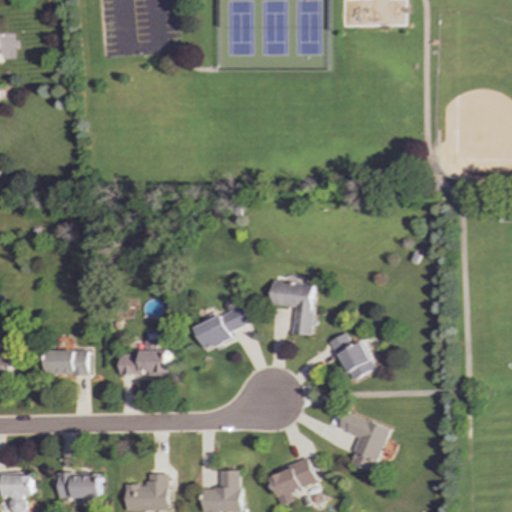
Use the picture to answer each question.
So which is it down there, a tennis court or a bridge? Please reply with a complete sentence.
The image shows a tennis court.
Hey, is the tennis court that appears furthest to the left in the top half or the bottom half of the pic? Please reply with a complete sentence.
The tennis court that appears furthest to the left sits in the top half of the picture.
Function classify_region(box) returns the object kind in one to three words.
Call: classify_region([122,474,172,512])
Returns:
house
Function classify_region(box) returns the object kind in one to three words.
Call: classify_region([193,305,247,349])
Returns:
house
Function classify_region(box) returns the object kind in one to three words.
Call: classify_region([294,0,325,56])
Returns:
tennis court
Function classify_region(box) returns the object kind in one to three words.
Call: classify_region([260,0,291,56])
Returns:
tennis court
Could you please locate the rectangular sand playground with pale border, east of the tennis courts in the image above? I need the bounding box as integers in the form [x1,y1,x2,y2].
[344,0,408,28]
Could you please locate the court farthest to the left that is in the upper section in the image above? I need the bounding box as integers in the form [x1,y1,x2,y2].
[226,0,256,56]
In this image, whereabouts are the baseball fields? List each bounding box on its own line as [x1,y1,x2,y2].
[432,88,512,178]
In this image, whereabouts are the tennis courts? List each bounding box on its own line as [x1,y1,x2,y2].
[260,0,291,56]
[294,0,325,56]
[226,0,256,56]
